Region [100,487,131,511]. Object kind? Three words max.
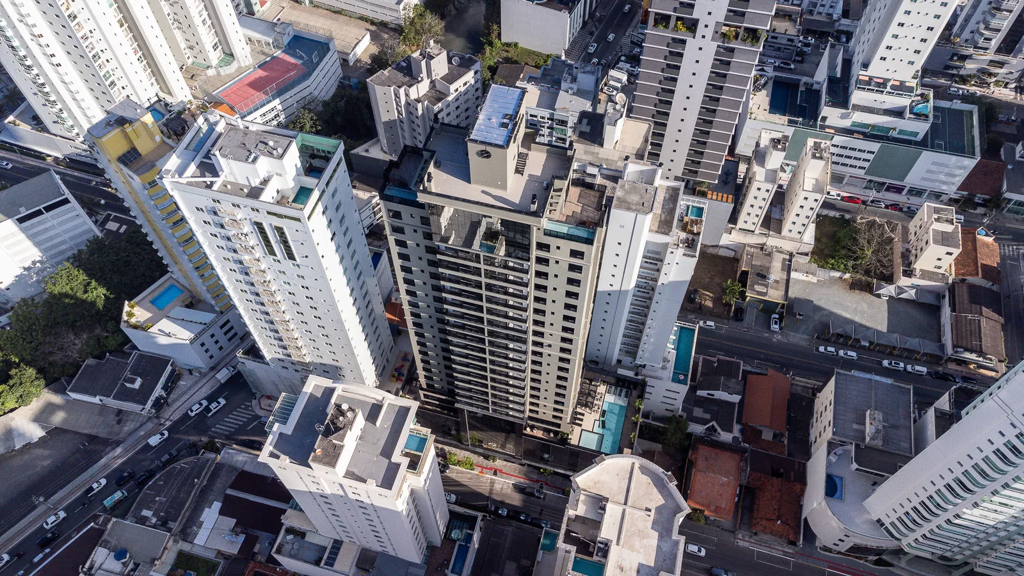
truck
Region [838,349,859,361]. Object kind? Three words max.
vehicle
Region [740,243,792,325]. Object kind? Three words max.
building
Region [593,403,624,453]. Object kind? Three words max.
swimming pool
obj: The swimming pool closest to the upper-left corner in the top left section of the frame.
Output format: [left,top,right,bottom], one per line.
[147,104,166,122]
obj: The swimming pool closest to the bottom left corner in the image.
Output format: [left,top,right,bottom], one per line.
[148,282,185,311]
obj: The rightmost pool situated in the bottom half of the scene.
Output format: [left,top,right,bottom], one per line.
[821,473,843,503]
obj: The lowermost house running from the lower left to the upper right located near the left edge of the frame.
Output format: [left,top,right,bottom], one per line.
[32,524,112,576]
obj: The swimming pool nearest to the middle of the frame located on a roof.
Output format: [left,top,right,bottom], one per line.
[545,220,597,240]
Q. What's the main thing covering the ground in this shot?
buildings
